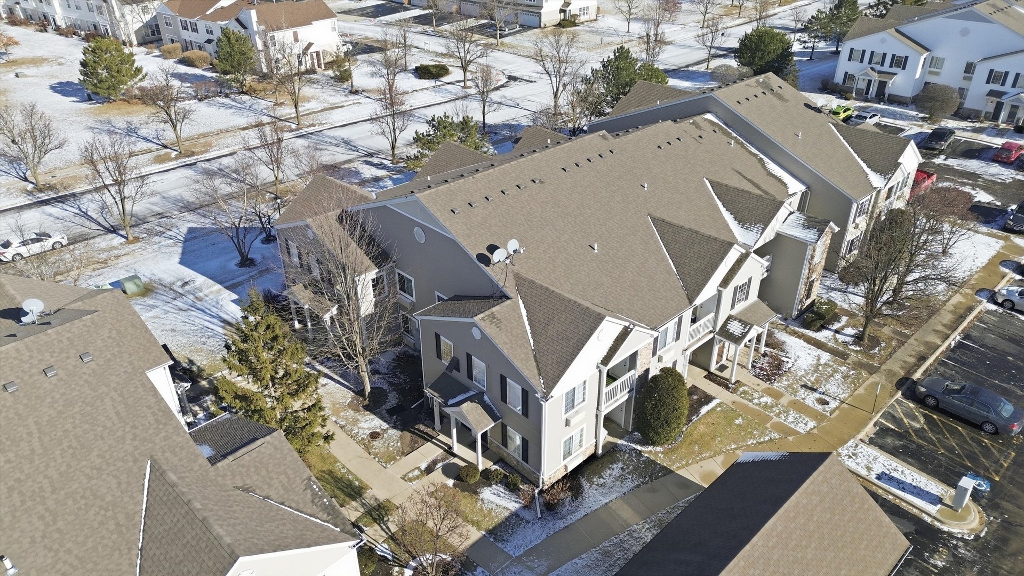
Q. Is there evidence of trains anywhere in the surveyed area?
No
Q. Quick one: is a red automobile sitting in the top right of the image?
Yes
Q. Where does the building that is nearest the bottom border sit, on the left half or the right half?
right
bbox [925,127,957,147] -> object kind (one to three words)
car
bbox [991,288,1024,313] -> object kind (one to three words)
car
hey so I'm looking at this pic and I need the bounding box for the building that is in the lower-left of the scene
[0,268,373,576]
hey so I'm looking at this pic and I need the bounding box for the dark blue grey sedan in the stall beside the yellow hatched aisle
[921,380,1024,438]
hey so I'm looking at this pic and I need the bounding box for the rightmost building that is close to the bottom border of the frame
[606,450,916,576]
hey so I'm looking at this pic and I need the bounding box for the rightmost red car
[997,139,1024,162]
